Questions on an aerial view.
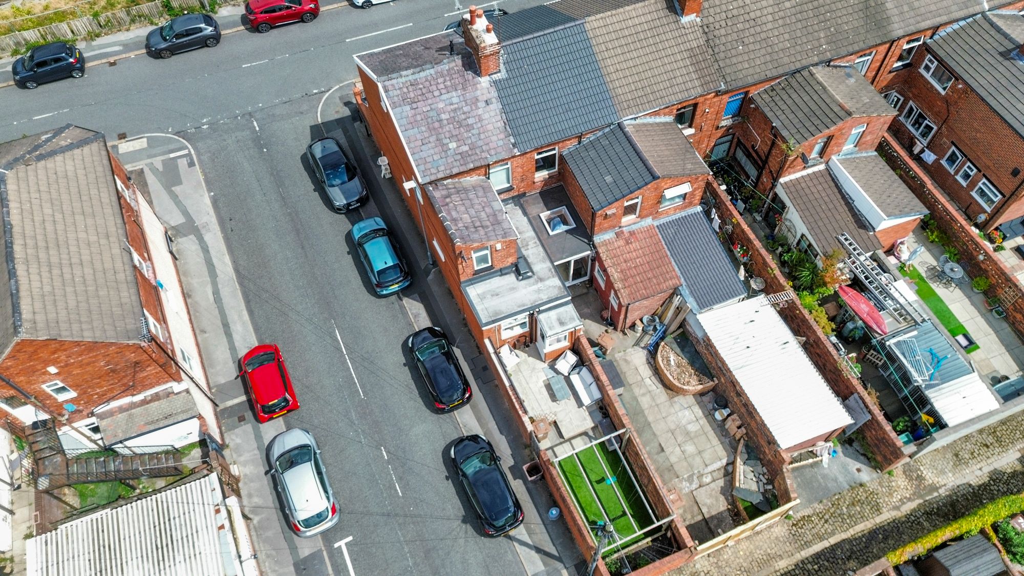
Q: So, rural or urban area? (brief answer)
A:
urban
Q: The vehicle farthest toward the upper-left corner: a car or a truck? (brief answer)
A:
car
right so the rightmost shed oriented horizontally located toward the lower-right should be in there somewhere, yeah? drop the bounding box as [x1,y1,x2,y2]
[911,532,1014,576]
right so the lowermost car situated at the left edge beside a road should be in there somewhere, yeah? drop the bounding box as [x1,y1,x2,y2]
[11,41,87,90]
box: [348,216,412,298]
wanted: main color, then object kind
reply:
blue car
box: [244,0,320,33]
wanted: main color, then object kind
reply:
red car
